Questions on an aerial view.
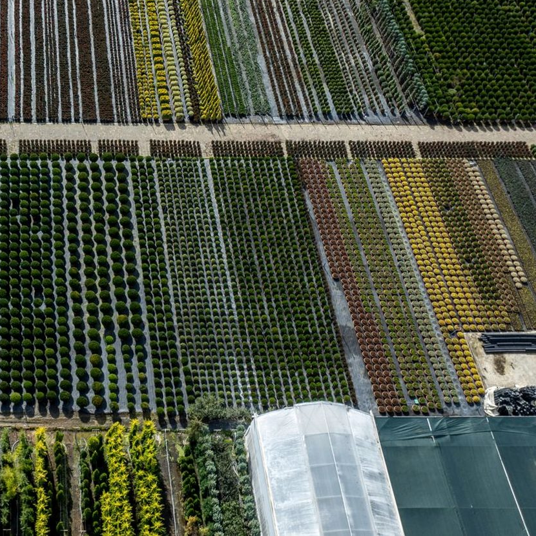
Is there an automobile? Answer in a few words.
No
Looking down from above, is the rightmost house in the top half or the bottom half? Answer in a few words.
bottom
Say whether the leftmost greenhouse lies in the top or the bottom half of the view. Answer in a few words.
bottom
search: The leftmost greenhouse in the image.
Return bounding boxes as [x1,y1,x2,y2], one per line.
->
[242,408,403,536]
